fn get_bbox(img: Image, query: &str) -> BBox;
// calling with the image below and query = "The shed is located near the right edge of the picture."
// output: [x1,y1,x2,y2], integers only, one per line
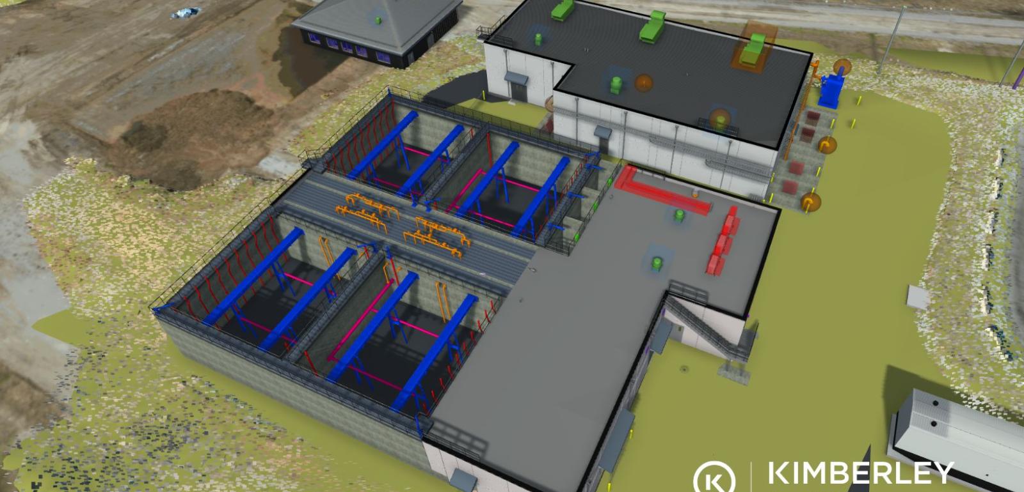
[887,389,1024,492]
